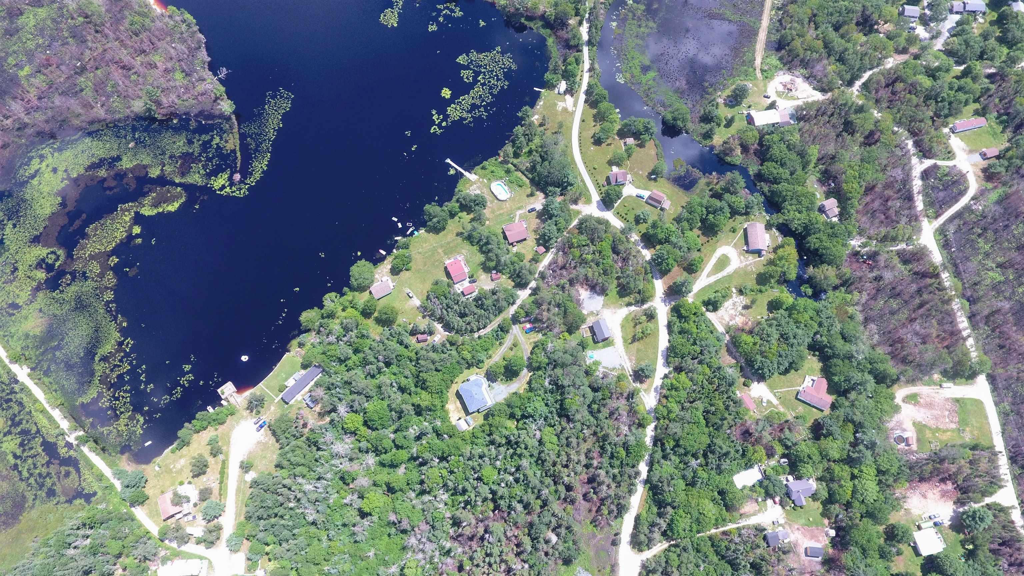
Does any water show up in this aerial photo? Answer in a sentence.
Yes, there is water in the image.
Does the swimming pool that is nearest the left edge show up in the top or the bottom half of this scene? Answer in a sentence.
The top half of the photo is where the swimming pool that is nearest the left edge is.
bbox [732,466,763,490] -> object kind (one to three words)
building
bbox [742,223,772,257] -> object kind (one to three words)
house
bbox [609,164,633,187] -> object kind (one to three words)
house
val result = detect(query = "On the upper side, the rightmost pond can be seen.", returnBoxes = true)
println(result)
[597,0,815,304]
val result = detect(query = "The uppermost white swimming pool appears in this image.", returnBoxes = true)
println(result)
[491,179,511,199]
